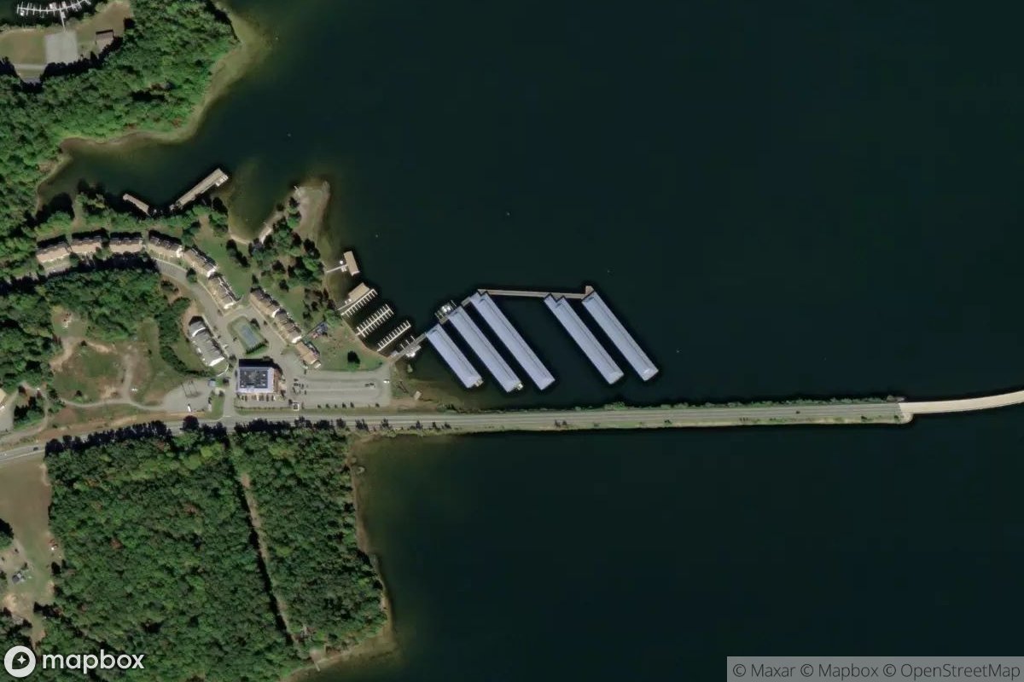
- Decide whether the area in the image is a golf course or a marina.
marina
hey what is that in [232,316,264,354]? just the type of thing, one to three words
sports court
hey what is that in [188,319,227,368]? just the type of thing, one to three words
building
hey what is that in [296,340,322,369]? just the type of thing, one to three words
building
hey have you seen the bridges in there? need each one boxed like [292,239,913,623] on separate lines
[899,390,1024,415]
